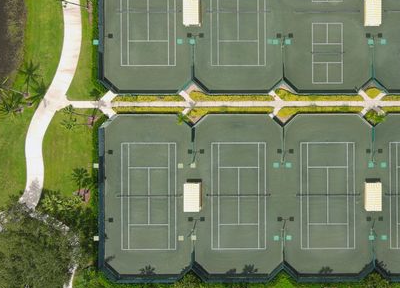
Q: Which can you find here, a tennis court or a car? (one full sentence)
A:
This aerial view contains a tennis court.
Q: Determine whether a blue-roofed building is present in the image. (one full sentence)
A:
No, I find no blue-roofed building anywhere in the image.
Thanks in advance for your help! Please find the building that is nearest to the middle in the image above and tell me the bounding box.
[184,182,202,212]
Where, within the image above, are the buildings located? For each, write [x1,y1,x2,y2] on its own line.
[365,0,381,27]
[184,0,201,26]
[184,182,202,212]
[364,181,381,211]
